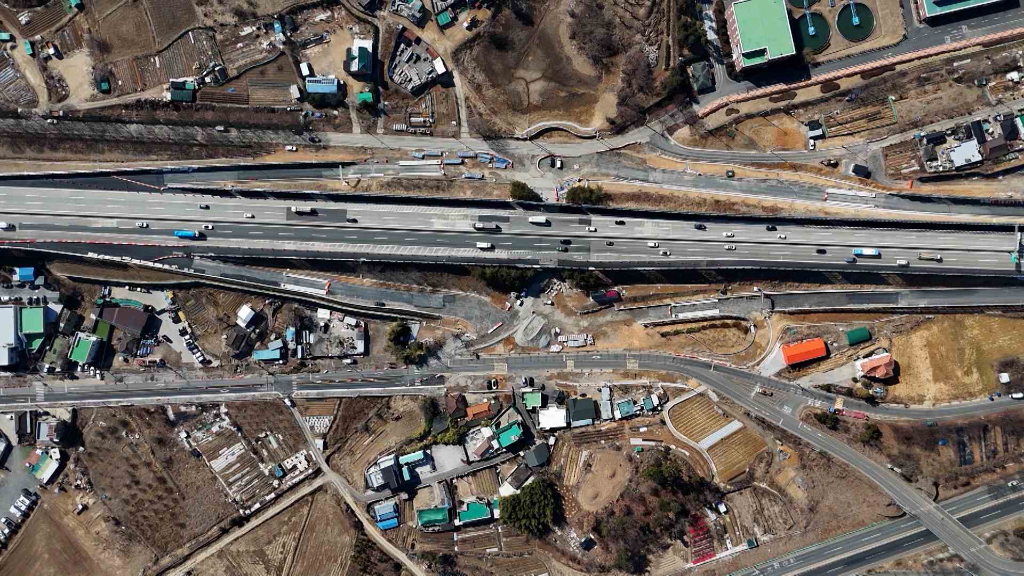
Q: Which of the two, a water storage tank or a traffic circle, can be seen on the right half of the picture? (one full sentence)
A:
It is a water storage tank that can be seen on the right half of the picture.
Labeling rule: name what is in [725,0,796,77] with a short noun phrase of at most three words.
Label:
building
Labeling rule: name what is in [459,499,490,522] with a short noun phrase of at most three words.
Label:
house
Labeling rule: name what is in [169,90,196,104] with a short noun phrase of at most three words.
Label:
shed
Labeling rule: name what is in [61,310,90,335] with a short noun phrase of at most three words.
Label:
barn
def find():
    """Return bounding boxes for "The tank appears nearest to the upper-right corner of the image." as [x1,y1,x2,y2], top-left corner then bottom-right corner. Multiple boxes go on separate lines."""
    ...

[835,0,877,42]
